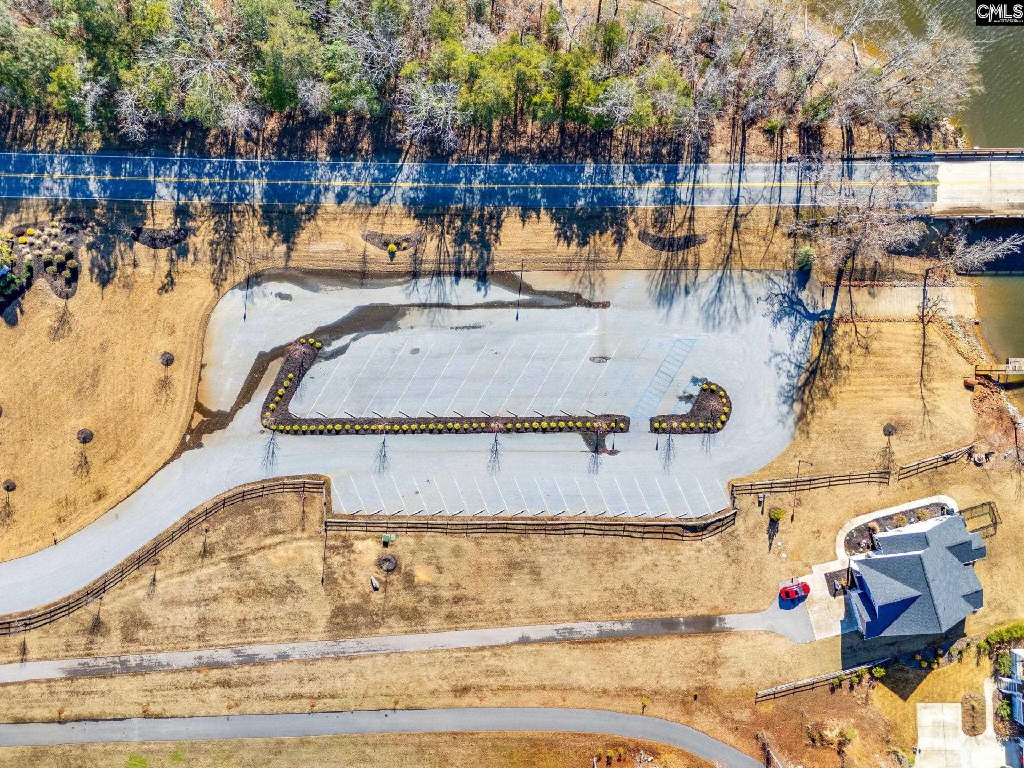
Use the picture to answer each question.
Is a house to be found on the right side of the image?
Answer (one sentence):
Yes, a house appears on the right side of the image.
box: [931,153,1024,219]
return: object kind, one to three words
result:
bridge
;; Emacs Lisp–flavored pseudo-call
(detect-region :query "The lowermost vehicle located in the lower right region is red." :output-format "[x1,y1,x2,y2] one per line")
[781,583,811,601]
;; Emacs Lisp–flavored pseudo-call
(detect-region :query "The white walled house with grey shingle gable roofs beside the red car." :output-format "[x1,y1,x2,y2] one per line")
[836,513,985,641]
